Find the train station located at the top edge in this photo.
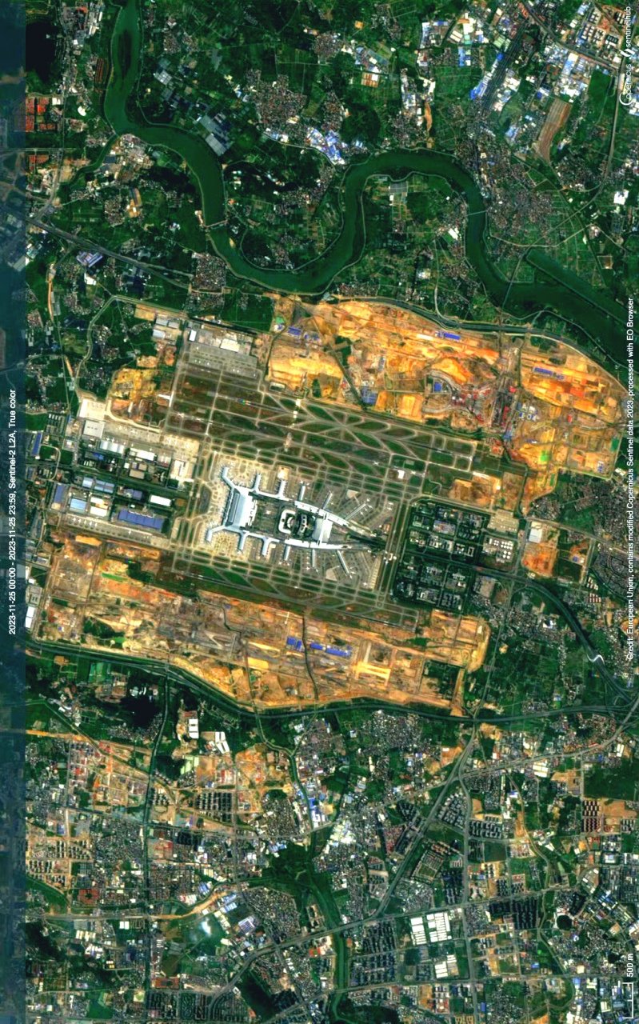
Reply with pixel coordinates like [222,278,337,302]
[481,21,530,112]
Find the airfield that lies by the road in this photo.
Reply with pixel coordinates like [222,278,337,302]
[66,342,477,632]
